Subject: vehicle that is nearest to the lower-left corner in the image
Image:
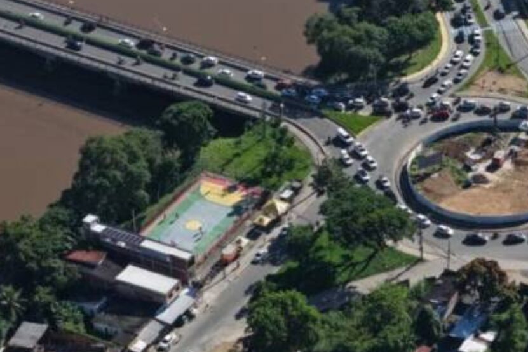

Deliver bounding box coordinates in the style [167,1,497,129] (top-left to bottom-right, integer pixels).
[157,332,177,351]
